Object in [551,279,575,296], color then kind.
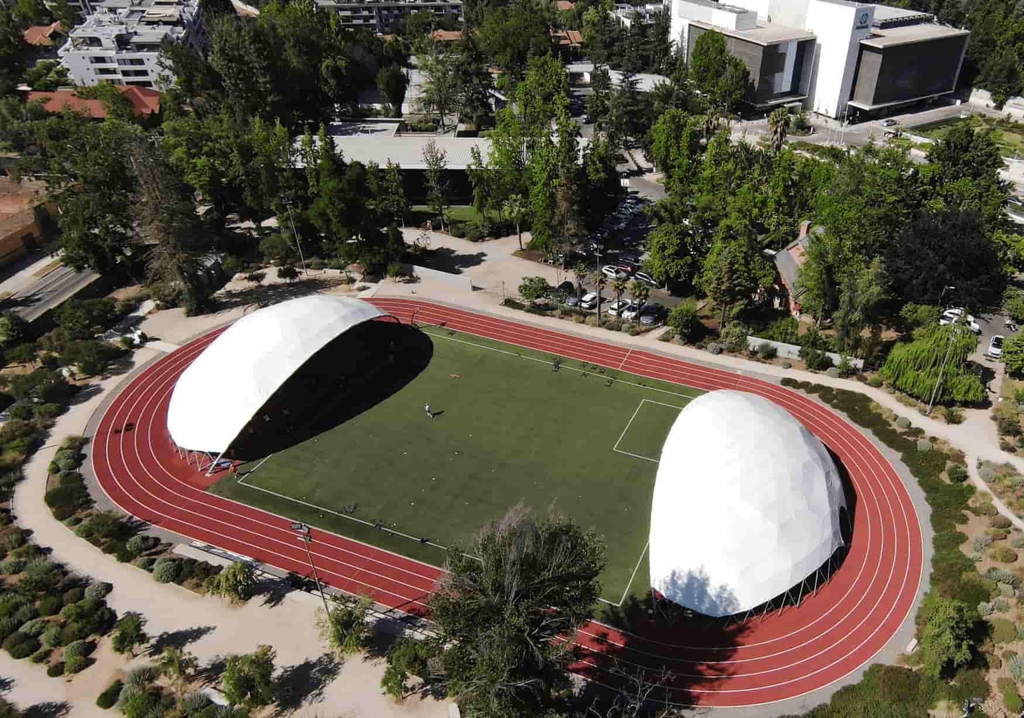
black car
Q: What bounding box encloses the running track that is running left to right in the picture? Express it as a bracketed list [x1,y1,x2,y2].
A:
[91,297,919,706]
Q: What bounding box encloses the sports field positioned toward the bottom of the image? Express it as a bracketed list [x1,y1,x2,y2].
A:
[239,331,688,606]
